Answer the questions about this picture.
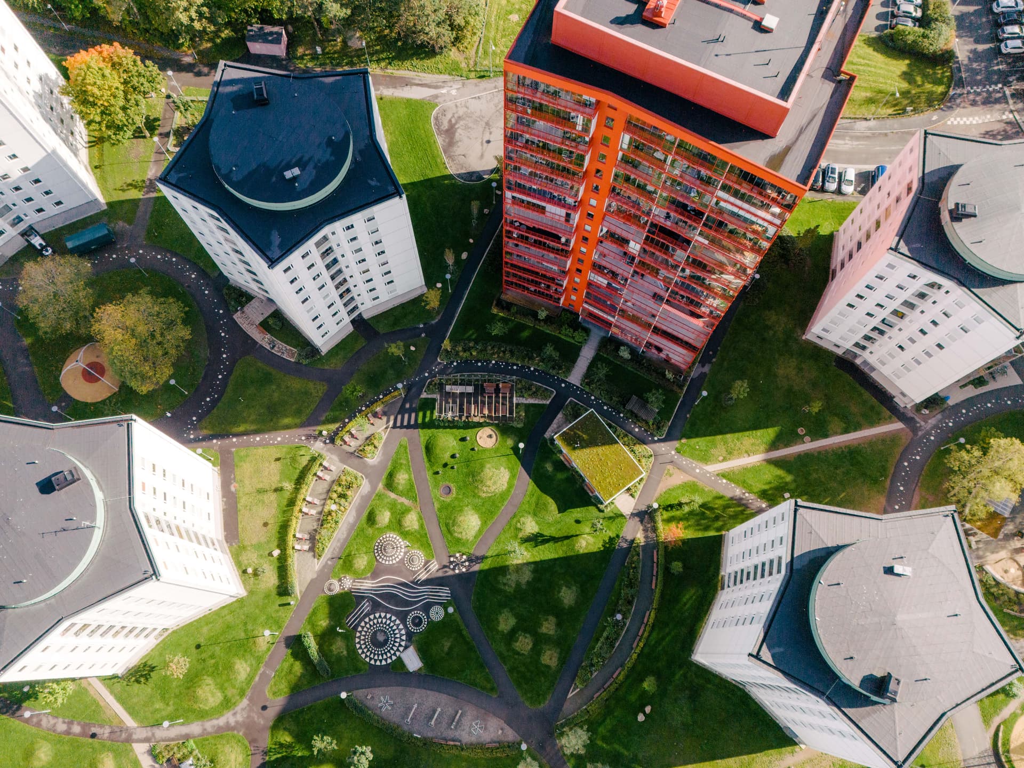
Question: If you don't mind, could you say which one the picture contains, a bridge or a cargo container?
cargo container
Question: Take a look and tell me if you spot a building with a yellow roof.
Yes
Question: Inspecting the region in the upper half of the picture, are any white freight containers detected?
No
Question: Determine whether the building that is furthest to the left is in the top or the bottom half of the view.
top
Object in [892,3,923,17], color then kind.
white car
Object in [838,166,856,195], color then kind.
white car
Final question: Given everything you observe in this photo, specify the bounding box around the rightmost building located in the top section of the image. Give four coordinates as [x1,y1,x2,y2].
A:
[808,131,1024,405]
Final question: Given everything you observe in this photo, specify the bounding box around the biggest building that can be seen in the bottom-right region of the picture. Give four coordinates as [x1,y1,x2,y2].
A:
[696,501,1022,767]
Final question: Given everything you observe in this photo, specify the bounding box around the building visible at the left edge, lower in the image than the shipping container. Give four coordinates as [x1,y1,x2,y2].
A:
[0,418,239,673]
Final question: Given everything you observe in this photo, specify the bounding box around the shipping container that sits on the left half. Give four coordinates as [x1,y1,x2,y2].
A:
[60,221,116,254]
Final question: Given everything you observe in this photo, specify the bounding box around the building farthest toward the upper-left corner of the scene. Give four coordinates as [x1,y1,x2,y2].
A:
[0,0,106,260]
